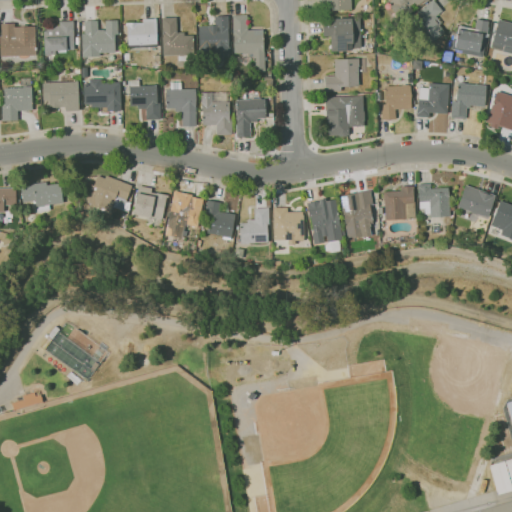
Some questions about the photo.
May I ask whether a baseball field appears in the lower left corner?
Yes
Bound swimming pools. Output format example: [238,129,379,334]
[92,68,110,78]
[391,60,402,70]
[390,222,412,233]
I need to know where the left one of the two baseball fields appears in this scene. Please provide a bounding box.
[0,367,232,512]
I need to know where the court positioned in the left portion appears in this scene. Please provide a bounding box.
[44,321,108,380]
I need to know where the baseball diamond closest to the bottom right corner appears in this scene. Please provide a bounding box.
[257,360,398,512]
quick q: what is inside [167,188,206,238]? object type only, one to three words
house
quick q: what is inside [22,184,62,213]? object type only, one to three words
house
